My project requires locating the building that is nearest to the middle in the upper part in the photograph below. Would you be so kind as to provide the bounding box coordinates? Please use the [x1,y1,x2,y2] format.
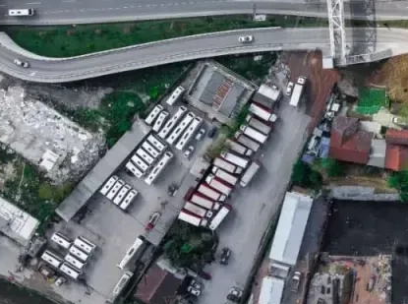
[200,71,249,116]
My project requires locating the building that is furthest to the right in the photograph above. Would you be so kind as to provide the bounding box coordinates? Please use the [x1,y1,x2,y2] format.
[385,129,408,171]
